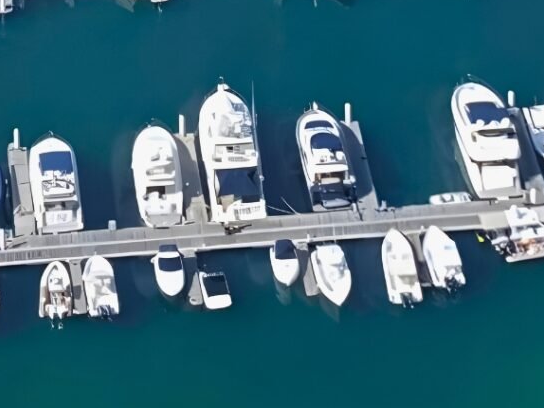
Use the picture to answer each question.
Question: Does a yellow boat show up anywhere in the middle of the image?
No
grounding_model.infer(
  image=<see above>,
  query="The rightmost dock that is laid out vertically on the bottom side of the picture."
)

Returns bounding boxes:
[408,232,431,287]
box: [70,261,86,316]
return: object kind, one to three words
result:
pier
